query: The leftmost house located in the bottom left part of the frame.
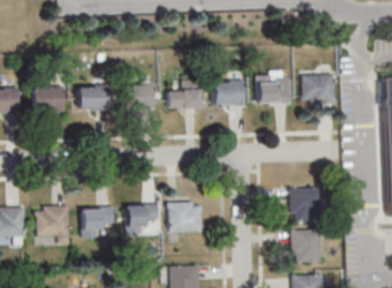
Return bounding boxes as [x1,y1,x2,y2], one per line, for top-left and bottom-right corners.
[0,206,26,246]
